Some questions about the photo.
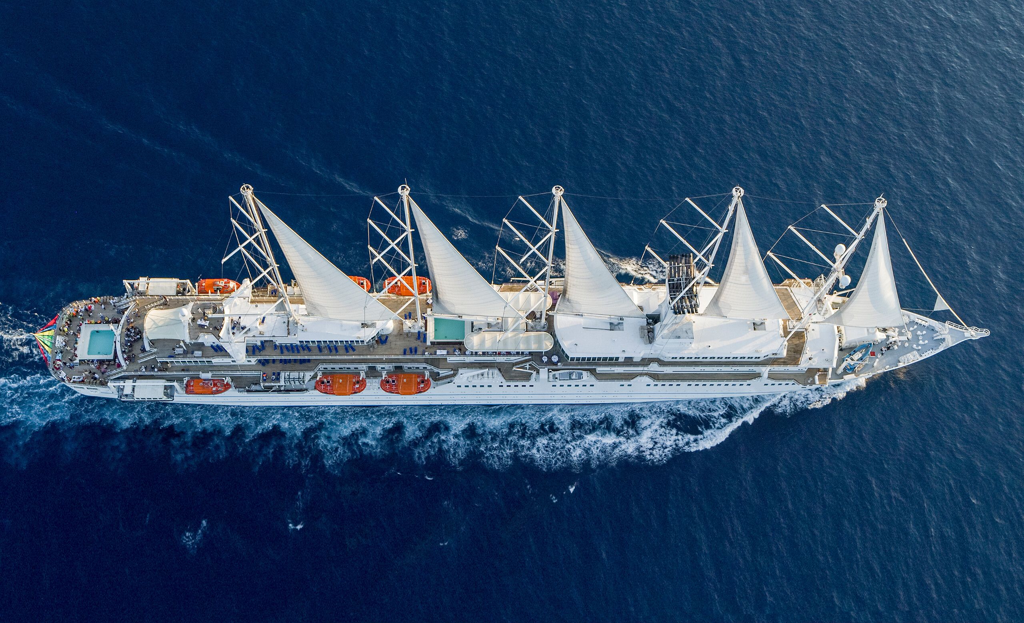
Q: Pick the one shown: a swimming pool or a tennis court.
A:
swimming pool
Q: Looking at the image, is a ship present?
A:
Yes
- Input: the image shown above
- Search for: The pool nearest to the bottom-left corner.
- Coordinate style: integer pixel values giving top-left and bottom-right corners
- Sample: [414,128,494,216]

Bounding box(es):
[80,324,118,370]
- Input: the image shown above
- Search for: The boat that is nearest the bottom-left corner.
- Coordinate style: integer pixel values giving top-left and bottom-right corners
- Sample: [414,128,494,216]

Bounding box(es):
[115,377,179,404]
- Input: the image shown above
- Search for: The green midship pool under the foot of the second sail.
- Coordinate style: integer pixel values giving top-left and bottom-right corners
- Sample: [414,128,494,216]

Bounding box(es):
[425,308,485,349]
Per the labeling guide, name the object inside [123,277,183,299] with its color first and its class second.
white boat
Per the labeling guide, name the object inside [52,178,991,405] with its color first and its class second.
white ship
